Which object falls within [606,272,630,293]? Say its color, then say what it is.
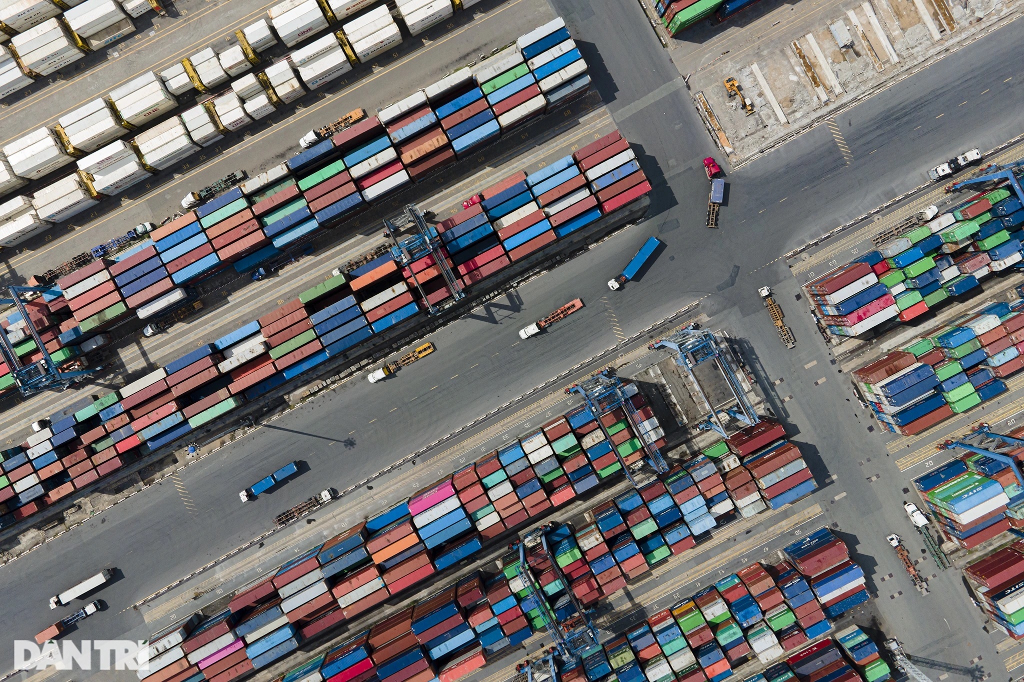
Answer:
white truck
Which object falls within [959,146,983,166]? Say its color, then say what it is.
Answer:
white vehicle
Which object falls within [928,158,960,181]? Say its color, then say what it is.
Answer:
white truck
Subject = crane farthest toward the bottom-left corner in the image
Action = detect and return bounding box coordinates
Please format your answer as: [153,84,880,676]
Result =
[0,282,112,400]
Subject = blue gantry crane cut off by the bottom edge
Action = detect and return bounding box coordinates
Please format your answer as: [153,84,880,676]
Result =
[507,645,560,682]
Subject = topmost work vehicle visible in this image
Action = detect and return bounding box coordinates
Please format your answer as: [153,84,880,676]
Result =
[727,78,748,117]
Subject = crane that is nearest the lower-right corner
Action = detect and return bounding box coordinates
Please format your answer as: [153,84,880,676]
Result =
[971,422,1024,491]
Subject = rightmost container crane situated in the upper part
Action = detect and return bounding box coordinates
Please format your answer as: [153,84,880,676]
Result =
[946,159,1024,222]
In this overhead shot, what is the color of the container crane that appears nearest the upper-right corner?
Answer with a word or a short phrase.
blue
